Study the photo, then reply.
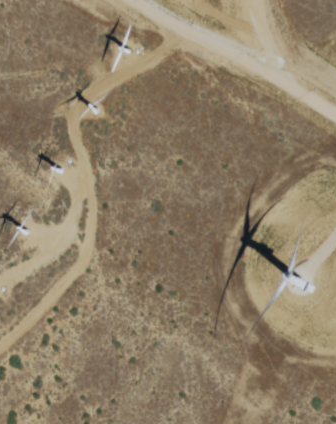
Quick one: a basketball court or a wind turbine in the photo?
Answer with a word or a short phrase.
wind turbine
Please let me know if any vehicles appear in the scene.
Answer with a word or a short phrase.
No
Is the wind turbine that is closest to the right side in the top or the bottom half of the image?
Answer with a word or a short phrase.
bottom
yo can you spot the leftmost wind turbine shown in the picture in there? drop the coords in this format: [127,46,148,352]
[8,207,30,248]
